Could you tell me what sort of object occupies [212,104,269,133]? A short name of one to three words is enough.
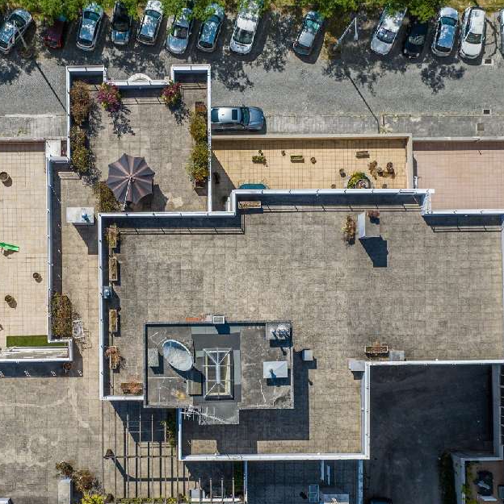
car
